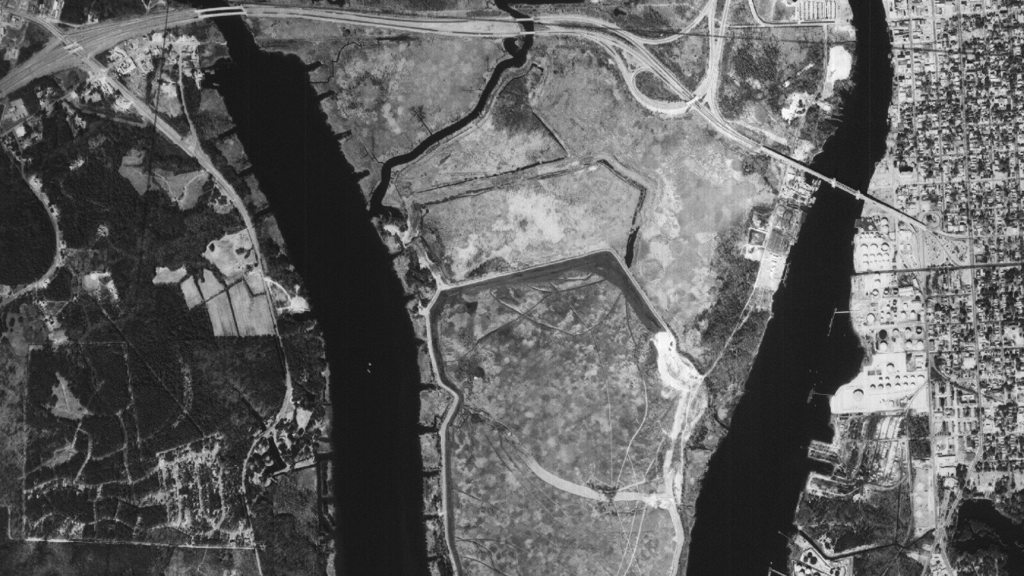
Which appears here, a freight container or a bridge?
bridge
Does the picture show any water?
Yes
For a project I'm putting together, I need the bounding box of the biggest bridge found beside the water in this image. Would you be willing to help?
[761,145,929,230]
